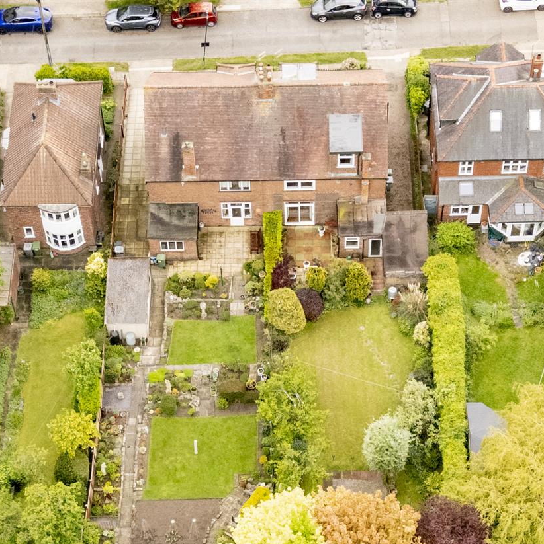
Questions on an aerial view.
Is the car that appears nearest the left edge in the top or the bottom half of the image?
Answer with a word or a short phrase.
top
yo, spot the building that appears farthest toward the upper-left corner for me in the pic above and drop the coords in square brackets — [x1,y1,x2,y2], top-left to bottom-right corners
[0,66,109,259]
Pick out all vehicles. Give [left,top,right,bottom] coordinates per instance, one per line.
[372,0,417,18]
[0,2,54,32]
[106,0,162,30]
[499,0,544,13]
[172,0,219,27]
[311,0,369,21]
